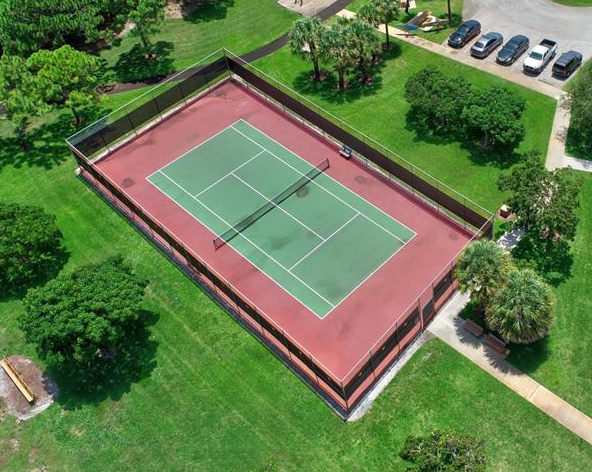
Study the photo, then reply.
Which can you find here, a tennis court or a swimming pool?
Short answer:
tennis court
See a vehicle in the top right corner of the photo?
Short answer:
Yes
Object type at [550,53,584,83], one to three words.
car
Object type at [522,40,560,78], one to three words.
truck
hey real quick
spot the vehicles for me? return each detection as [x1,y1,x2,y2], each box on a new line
[522,40,560,78]
[449,21,480,49]
[497,37,530,67]
[470,35,504,63]
[550,53,584,83]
